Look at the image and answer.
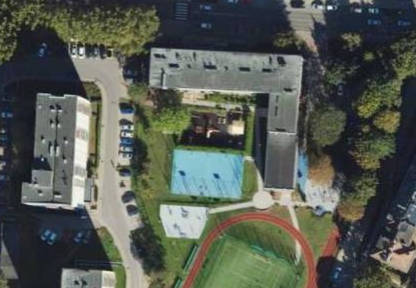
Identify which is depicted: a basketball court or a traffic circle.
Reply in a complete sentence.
This aerial view contains a basketball court.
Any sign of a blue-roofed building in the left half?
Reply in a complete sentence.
No, the scene shows no blue-roofed building in the left half.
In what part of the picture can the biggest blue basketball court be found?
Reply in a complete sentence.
The biggest blue basketball court sits in the center section of the image.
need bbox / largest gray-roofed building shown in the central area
[149,49,306,191]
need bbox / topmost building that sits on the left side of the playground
[22,94,97,209]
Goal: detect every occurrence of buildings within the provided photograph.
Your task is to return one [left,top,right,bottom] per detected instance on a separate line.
[372,162,416,270]
[22,94,97,209]
[149,49,306,191]
[61,268,114,288]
